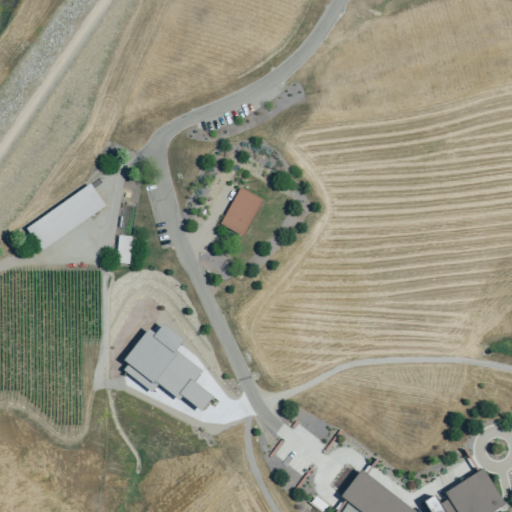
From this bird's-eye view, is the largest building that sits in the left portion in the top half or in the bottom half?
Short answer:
bottom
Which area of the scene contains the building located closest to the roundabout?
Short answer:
bottom right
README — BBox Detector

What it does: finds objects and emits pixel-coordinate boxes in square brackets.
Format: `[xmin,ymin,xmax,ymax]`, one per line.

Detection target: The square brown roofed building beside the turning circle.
[442,470,506,512]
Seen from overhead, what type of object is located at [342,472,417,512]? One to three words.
building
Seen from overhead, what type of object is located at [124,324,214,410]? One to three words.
building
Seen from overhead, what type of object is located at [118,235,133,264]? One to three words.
shed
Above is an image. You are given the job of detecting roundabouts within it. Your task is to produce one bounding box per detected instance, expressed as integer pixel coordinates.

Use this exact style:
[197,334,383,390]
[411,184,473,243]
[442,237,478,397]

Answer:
[474,426,512,473]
